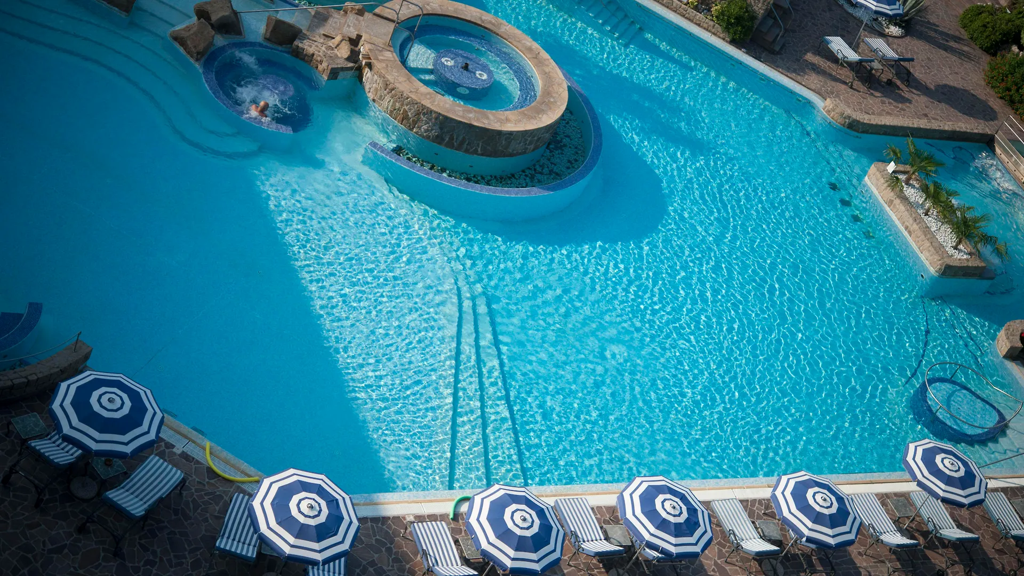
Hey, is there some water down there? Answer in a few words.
Yes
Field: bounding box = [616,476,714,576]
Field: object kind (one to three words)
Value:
umbrella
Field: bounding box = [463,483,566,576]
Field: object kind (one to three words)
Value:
umbrella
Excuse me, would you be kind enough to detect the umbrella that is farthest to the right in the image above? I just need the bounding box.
[896,439,987,537]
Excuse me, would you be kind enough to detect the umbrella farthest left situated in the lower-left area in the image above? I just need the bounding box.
[46,371,166,498]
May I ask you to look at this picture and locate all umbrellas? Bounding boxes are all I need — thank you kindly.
[463,483,566,576]
[896,439,987,537]
[616,476,714,576]
[766,471,862,576]
[46,371,166,498]
[843,0,904,49]
[247,468,361,576]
